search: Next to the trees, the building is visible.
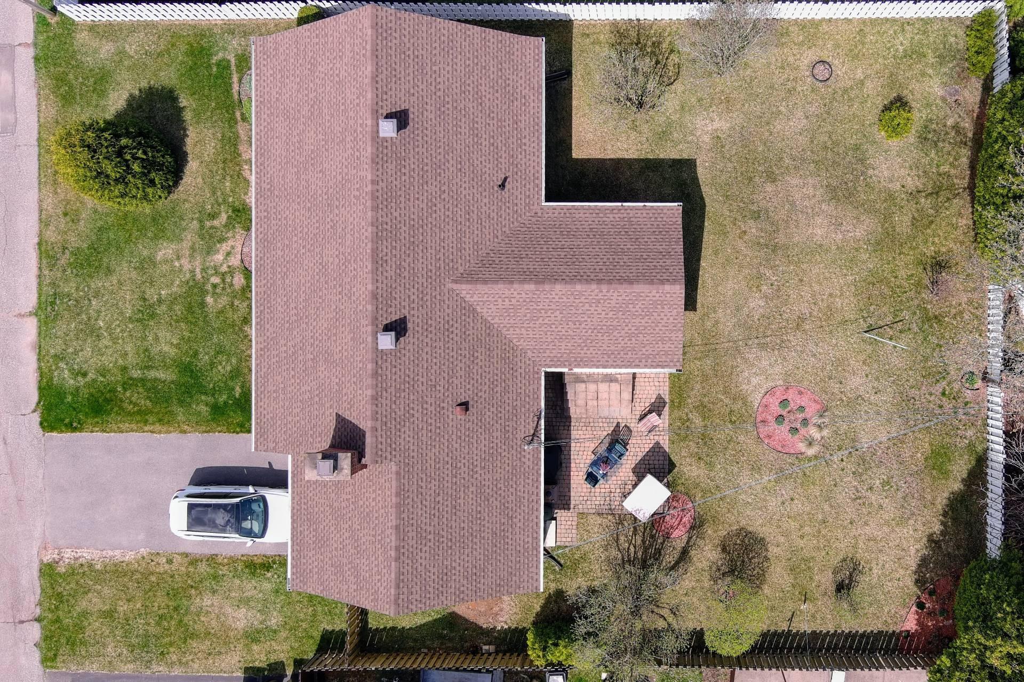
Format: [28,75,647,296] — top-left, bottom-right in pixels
[250,4,684,616]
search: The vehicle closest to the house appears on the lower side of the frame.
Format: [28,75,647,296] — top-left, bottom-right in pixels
[169,481,286,547]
